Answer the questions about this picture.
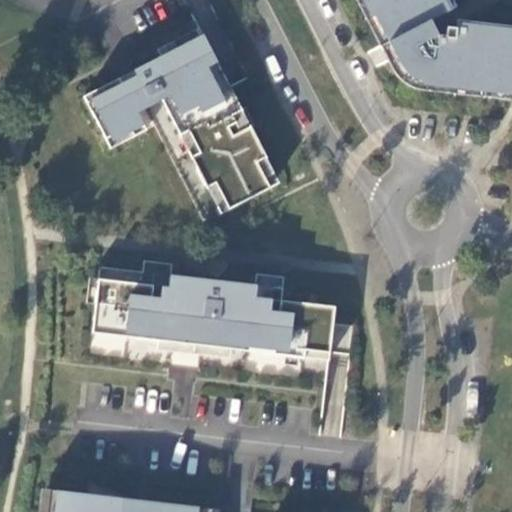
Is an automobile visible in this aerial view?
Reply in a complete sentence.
Yes, this view includes an automobile.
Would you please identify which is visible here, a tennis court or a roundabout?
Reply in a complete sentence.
The one in the frame is a roundabout.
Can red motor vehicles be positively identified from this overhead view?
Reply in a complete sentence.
Yes, looking at the shot, I can spot a red motor vehicle.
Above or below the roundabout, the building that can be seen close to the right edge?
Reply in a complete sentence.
The building that can be seen close to the right edge is above the roundabout.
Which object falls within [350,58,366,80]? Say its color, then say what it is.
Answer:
white car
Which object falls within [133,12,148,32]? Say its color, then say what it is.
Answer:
white car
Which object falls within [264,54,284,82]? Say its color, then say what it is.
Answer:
white vehicle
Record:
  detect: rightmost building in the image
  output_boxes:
[361,0,512,102]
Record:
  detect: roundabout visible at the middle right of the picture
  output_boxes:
[347,140,482,292]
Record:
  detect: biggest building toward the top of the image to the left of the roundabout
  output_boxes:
[84,32,280,216]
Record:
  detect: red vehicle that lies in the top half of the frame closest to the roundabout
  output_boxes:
[295,108,311,128]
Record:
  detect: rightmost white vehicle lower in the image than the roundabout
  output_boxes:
[467,381,479,416]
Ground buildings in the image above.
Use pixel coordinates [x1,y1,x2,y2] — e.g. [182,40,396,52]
[39,488,216,512]
[361,0,512,102]
[84,32,280,216]
[86,260,336,373]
